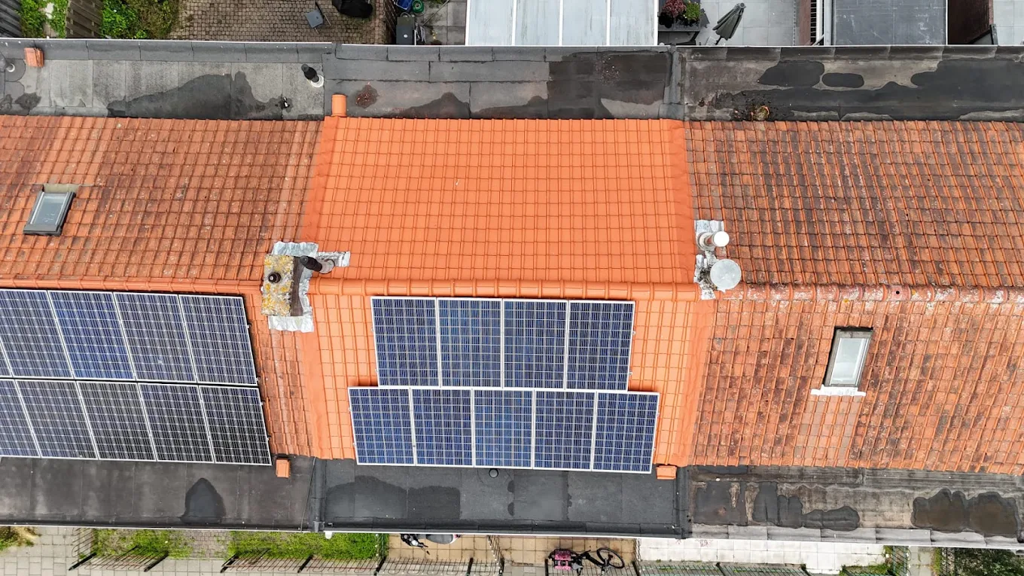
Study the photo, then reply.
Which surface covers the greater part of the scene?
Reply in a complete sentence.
The scene is dominated by buildings.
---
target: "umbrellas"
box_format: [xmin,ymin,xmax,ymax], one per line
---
[706,0,755,45]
